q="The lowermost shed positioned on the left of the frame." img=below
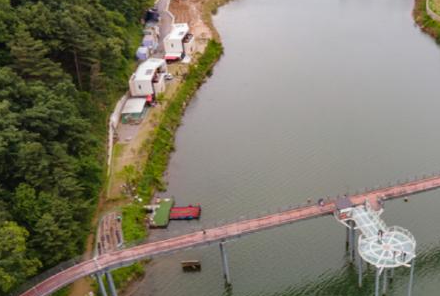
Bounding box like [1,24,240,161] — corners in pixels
[118,97,148,123]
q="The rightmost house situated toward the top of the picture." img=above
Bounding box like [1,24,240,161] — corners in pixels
[162,29,197,64]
